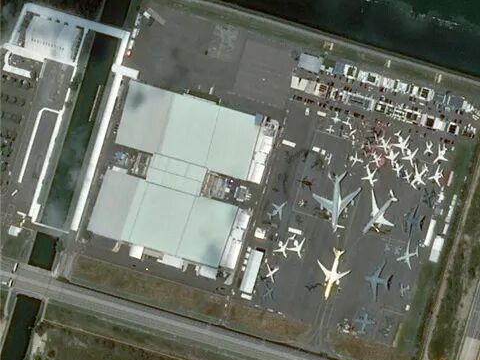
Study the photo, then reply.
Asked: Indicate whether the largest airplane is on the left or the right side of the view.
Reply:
right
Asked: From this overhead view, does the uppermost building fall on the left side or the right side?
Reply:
left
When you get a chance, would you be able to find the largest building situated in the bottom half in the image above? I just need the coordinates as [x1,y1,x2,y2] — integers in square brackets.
[87,170,239,268]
